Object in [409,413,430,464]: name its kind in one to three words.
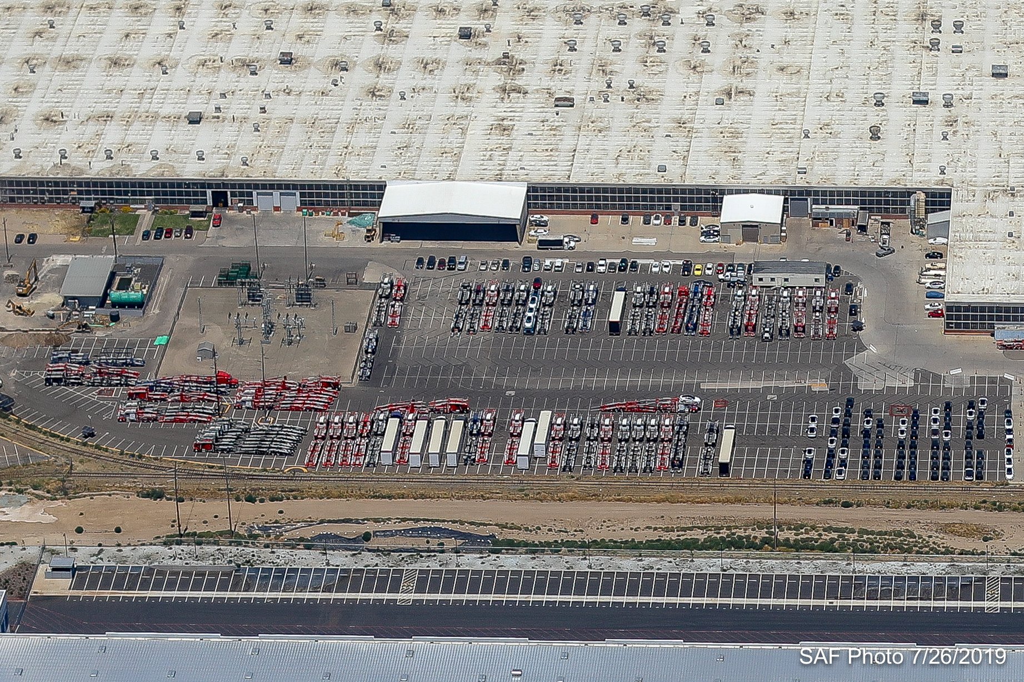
truck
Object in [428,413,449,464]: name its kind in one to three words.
truck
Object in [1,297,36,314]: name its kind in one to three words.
work vehicle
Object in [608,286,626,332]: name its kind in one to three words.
vehicle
